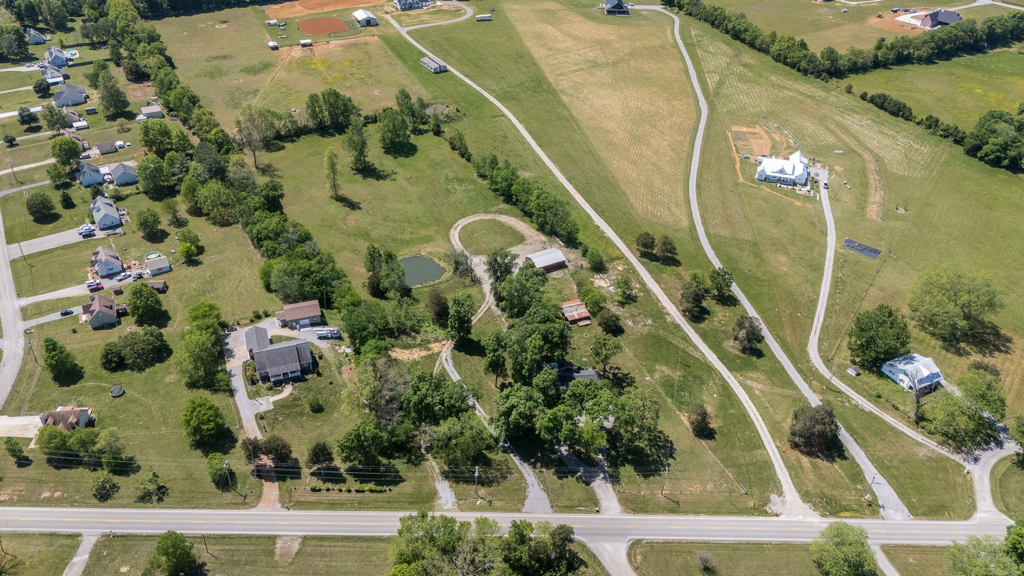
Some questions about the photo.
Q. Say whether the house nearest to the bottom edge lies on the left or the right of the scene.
left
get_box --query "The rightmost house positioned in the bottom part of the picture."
[882,353,943,393]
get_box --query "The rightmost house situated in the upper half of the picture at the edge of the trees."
[920,12,959,29]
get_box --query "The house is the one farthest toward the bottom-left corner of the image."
[38,395,103,433]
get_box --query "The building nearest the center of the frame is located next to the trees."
[523,249,567,273]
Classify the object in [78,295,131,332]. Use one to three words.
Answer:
house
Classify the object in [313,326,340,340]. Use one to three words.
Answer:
vehicle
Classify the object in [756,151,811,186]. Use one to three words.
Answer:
house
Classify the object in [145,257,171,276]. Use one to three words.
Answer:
building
